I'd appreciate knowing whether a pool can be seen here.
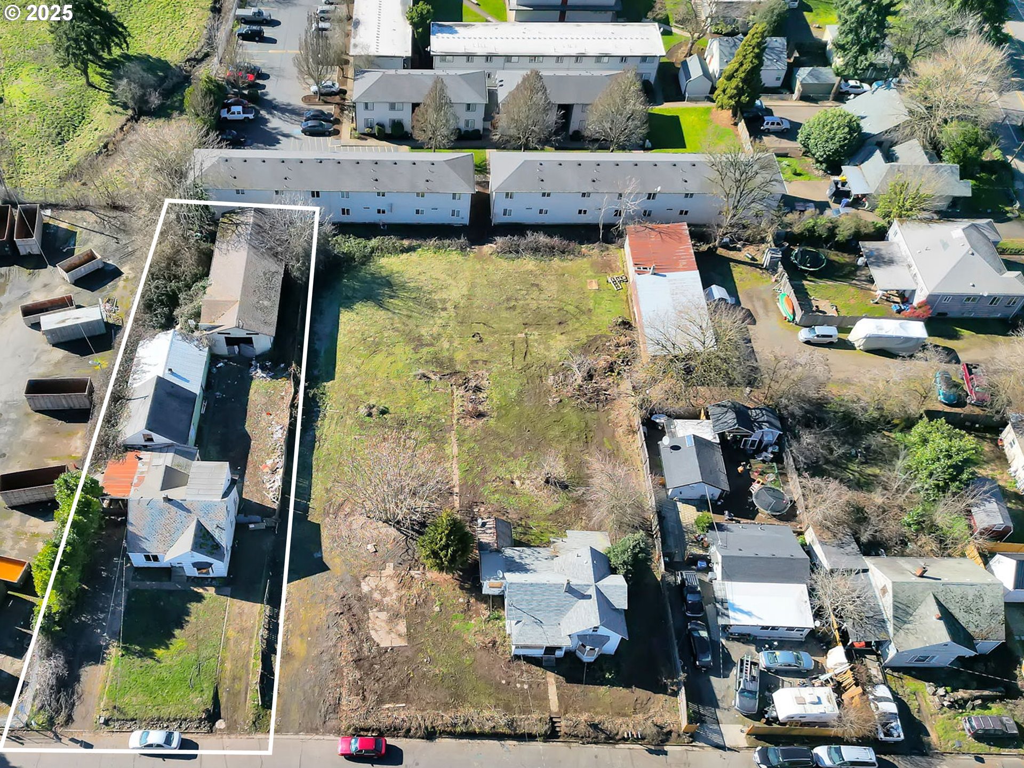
No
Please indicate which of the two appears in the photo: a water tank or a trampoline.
trampoline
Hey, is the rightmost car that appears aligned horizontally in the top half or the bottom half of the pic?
bottom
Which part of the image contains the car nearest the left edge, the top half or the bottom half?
bottom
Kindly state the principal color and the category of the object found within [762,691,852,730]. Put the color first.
white trailer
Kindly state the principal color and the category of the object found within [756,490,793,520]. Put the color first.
gray trampoline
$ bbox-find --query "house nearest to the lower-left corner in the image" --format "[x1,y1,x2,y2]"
[107,449,253,585]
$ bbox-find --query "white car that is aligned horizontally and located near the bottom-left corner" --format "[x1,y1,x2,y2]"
[126,731,182,757]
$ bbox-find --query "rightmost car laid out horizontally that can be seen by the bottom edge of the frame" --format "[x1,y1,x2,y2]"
[961,719,1024,746]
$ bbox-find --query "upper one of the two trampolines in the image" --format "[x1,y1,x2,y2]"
[793,243,831,276]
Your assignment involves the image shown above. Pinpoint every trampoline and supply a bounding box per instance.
[756,490,793,520]
[793,243,831,276]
